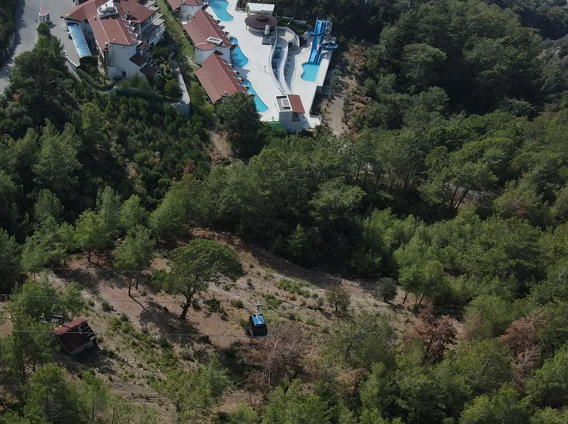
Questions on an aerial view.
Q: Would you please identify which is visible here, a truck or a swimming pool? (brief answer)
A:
swimming pool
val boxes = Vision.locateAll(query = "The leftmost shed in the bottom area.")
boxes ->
[54,317,95,356]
